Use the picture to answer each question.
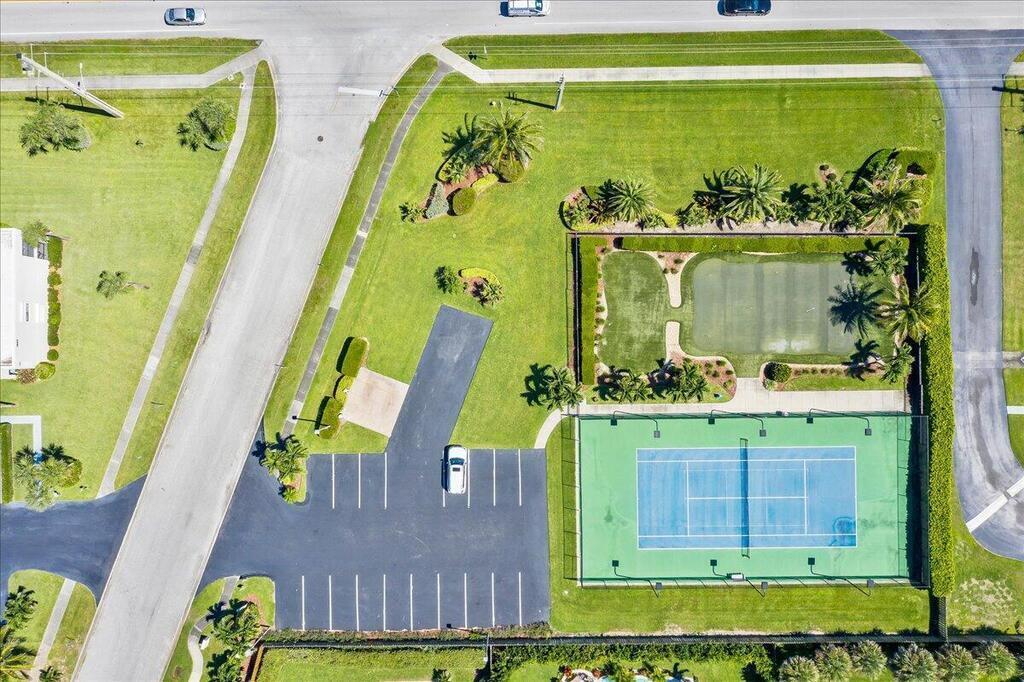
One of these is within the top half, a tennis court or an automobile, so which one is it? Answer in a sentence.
There is an automobile within the top half.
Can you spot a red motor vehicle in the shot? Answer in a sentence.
No, the photo shows no red motor vehicle.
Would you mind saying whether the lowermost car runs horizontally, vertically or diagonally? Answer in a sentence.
I'd say the lowermost car is aligned vertically in the picture.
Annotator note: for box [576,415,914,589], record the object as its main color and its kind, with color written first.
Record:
green tennis court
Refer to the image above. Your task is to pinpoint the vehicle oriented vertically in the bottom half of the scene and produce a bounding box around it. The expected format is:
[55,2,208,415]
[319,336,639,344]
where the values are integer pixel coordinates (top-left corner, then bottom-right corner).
[446,447,468,493]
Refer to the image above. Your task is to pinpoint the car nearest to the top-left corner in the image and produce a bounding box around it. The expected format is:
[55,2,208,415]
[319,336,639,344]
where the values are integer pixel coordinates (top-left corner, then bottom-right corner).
[161,3,205,26]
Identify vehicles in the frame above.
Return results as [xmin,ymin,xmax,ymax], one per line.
[728,0,775,16]
[446,447,468,493]
[161,3,205,26]
[507,0,552,17]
